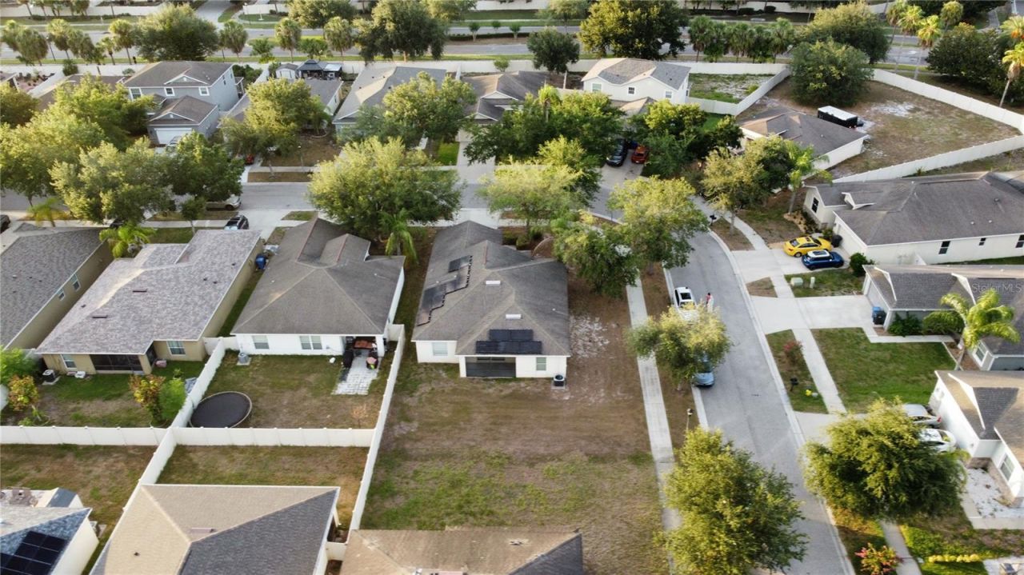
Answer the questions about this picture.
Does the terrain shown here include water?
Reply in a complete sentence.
No, no water is visible.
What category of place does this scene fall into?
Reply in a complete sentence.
It's a residential area.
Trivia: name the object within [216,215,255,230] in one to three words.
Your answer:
car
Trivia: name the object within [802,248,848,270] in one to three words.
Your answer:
car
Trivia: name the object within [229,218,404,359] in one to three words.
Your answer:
house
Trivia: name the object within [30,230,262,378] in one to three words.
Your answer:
house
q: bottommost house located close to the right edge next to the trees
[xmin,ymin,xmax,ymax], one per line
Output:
[927,371,1024,506]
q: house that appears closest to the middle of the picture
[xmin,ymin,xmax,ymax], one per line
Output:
[411,218,570,380]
